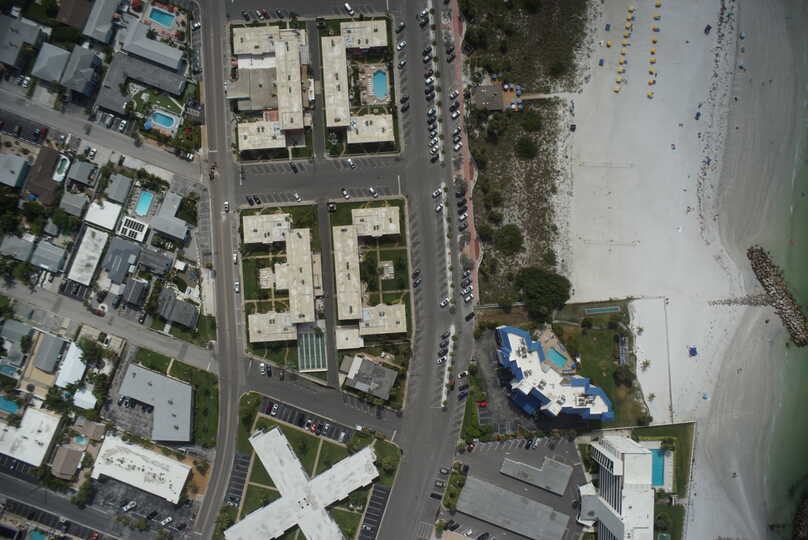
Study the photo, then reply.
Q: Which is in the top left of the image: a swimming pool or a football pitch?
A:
swimming pool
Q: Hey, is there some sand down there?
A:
Yes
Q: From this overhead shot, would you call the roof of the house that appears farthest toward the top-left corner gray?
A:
Yes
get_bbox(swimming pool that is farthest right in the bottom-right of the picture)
[647,448,665,486]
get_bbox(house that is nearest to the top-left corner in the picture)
[0,13,43,67]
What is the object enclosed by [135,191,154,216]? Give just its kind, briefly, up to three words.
swimming pool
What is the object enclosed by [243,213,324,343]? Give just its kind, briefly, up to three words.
building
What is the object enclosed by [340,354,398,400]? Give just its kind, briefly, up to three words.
house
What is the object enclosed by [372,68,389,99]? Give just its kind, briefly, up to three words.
swimming pool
